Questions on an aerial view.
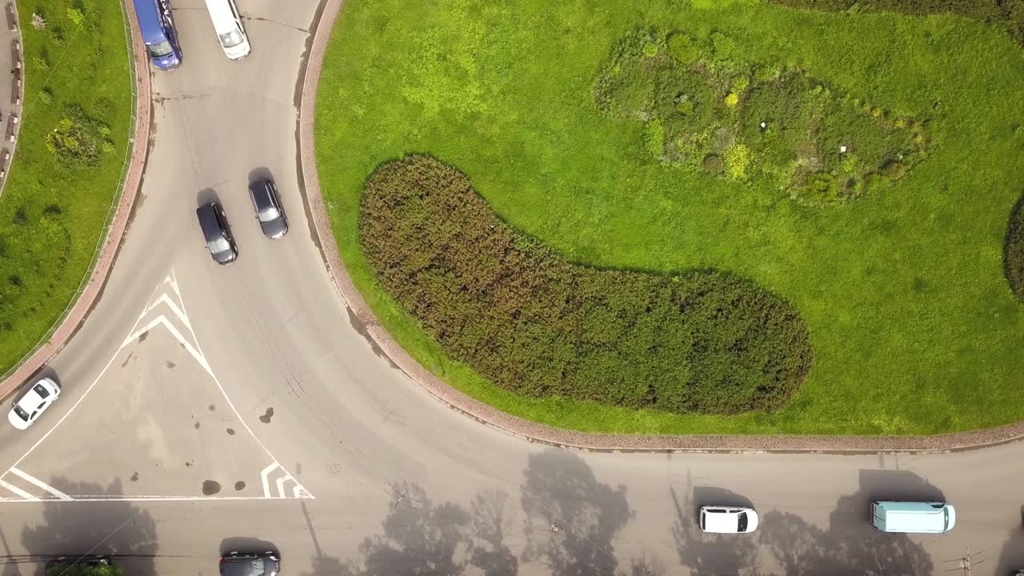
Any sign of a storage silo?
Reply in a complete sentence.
No, there's no storage silo here.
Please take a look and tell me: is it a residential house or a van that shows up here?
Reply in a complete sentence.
Visible in the photo is a van.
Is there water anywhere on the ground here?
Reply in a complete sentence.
No, the picture contains no water.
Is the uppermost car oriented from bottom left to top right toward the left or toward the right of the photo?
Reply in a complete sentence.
The uppermost car oriented from bottom left to top right appears in the left half of the scene.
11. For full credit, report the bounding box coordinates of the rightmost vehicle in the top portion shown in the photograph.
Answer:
[251,180,289,241]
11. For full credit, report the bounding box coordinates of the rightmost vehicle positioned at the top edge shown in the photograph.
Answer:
[203,0,250,62]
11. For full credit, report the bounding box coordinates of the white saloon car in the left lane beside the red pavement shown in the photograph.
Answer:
[9,377,61,430]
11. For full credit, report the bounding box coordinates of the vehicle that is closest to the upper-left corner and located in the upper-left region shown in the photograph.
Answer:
[130,0,182,72]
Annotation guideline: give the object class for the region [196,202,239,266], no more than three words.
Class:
car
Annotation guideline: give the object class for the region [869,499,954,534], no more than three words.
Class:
van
